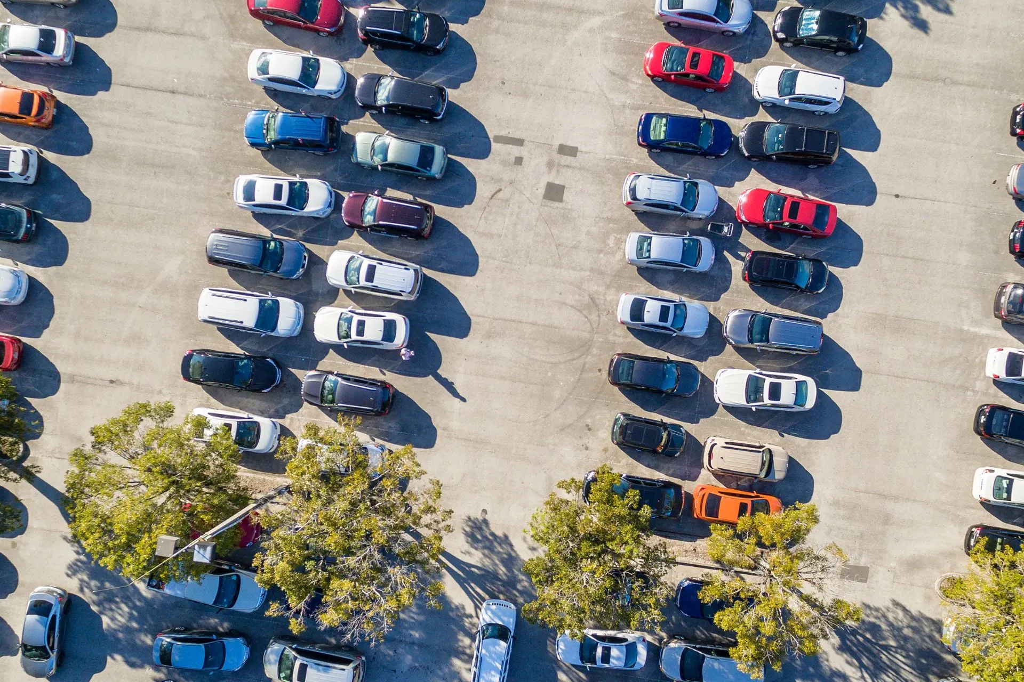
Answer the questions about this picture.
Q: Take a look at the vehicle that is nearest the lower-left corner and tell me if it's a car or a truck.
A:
car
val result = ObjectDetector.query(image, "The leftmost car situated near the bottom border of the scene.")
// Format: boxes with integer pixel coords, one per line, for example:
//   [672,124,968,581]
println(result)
[14,584,75,675]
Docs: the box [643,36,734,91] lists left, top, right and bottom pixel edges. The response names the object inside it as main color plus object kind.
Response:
red car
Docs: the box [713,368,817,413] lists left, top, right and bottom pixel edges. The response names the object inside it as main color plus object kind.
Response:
white car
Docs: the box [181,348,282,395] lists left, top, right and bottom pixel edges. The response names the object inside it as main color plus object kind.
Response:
black car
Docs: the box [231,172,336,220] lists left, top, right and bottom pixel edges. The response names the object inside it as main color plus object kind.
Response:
white car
